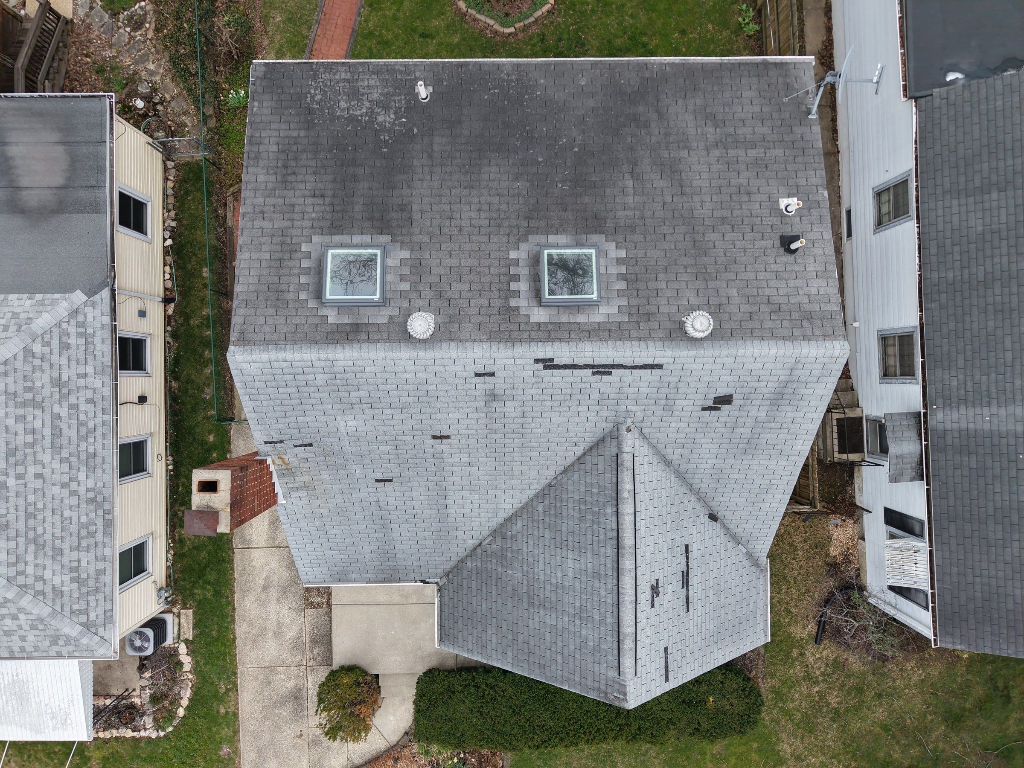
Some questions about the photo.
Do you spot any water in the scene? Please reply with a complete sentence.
No, there is no water in the image.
